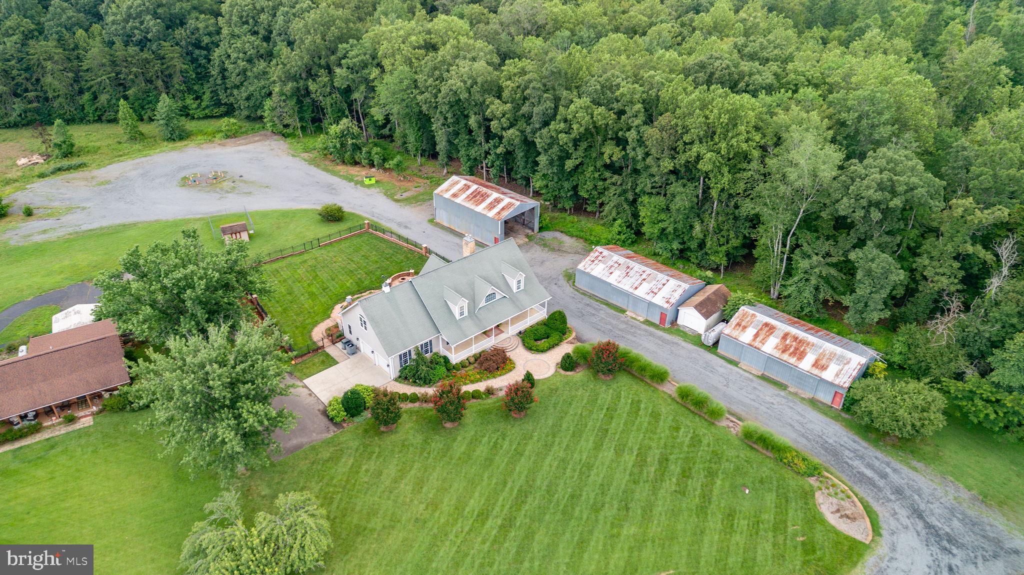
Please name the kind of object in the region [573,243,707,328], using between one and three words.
shed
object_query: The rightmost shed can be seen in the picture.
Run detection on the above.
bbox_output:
[718,301,880,407]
